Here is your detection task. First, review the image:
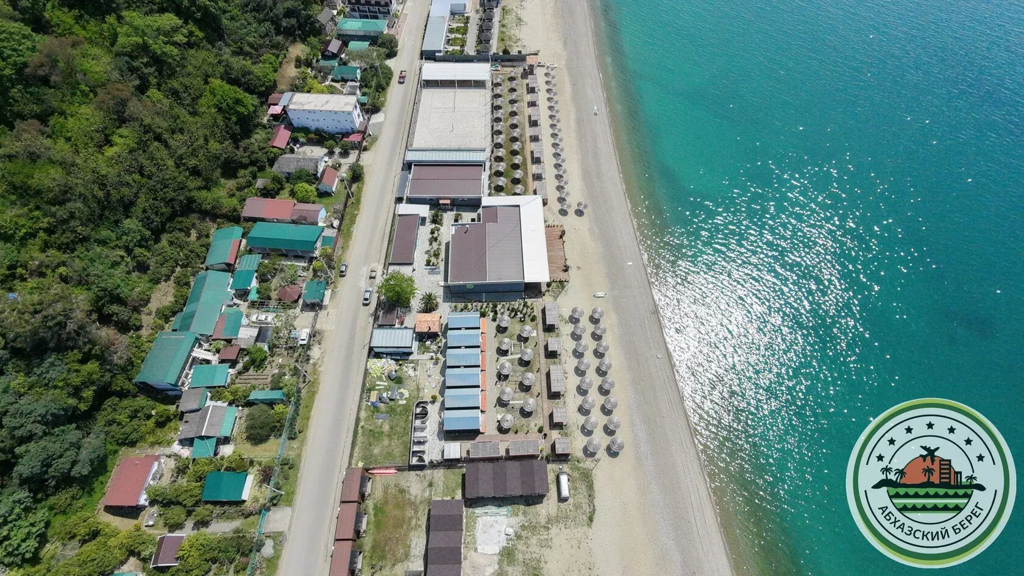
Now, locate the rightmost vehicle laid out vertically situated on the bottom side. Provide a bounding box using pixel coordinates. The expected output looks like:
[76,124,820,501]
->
[558,472,571,500]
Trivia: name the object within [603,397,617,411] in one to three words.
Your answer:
umbrella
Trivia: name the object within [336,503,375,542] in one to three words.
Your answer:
building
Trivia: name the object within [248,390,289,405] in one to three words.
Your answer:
shed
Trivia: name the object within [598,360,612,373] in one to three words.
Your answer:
umbrella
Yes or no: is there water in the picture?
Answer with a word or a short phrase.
Yes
